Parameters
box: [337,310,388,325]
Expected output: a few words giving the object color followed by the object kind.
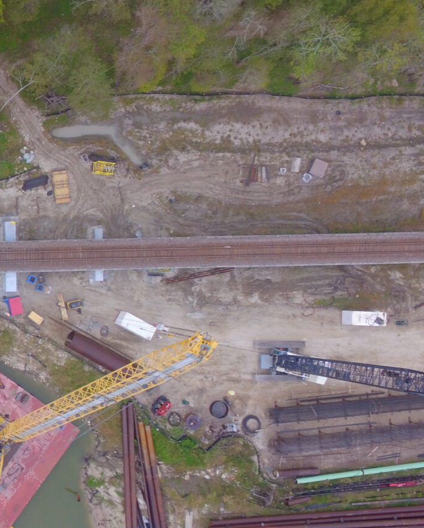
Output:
white trailer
